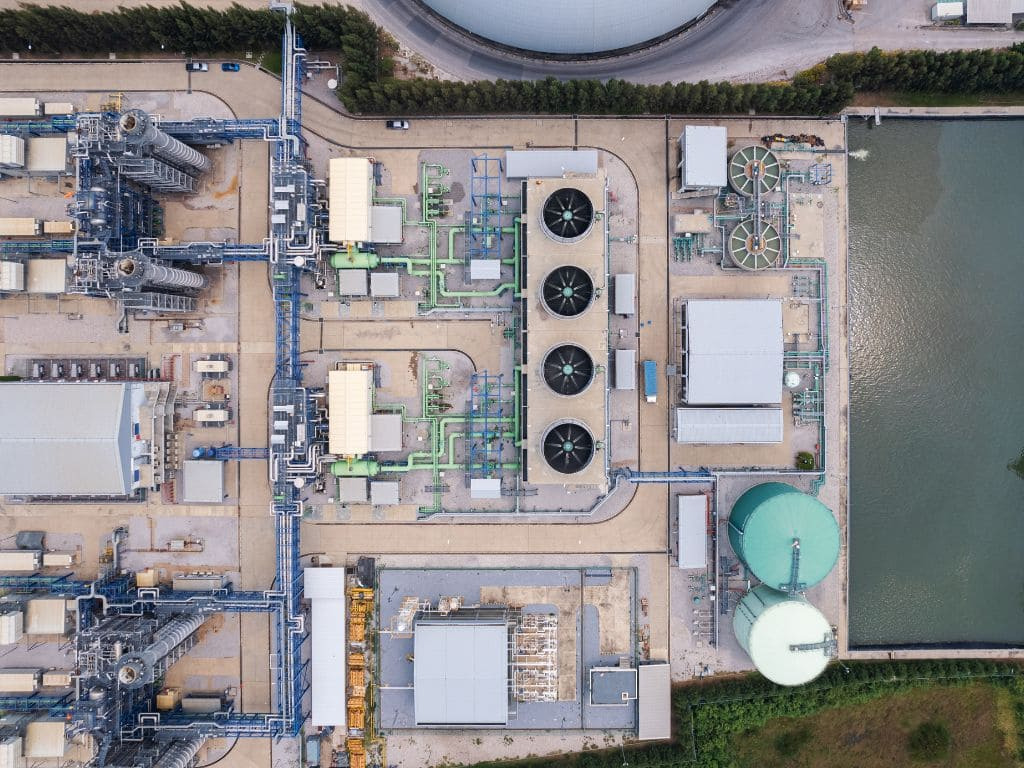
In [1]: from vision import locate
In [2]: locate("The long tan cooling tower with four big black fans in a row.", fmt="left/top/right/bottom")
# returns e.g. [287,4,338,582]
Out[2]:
[521,176,610,487]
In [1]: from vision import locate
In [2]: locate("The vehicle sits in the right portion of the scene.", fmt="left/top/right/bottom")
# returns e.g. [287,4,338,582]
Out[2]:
[642,360,657,403]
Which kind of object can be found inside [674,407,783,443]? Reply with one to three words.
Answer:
shed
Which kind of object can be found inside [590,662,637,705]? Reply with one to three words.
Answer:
building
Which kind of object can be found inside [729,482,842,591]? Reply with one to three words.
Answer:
storage tank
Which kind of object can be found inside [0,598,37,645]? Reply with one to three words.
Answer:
house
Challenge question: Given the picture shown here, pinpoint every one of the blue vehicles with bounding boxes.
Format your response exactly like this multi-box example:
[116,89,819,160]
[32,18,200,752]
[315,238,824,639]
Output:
[642,360,657,403]
[220,61,240,71]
